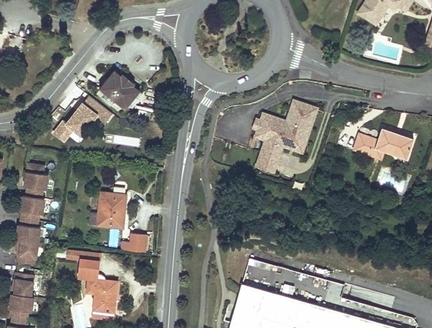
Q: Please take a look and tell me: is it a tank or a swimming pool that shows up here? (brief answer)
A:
swimming pool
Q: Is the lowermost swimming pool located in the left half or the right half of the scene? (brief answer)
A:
left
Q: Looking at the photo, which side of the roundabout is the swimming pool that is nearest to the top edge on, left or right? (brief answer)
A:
to the right of it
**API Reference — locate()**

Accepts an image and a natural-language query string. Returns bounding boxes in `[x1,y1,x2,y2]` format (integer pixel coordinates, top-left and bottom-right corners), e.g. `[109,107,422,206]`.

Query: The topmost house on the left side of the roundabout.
[99,70,140,110]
